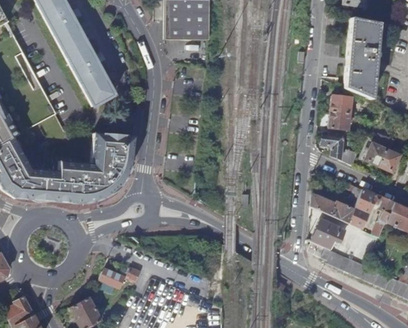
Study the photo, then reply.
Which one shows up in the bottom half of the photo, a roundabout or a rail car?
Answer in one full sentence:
It is a roundabout that can be seen in the bottom half of the photo.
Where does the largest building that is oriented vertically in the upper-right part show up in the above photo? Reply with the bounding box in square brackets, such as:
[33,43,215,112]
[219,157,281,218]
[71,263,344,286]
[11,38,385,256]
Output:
[344,18,384,104]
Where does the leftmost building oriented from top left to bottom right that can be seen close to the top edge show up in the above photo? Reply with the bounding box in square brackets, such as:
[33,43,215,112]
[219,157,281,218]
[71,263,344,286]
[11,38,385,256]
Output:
[30,0,118,108]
